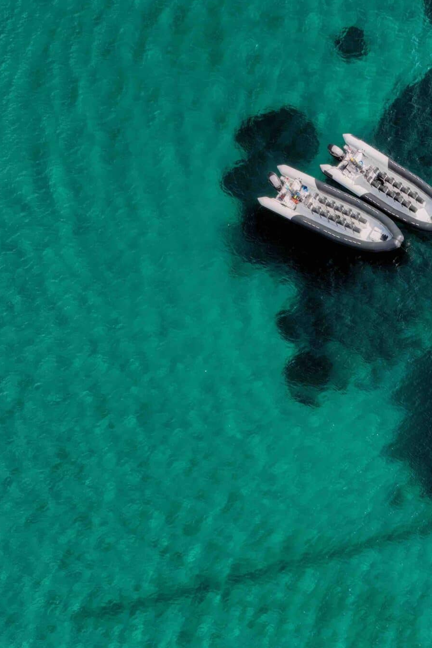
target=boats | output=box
[258,165,403,255]
[321,135,432,231]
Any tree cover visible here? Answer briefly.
No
